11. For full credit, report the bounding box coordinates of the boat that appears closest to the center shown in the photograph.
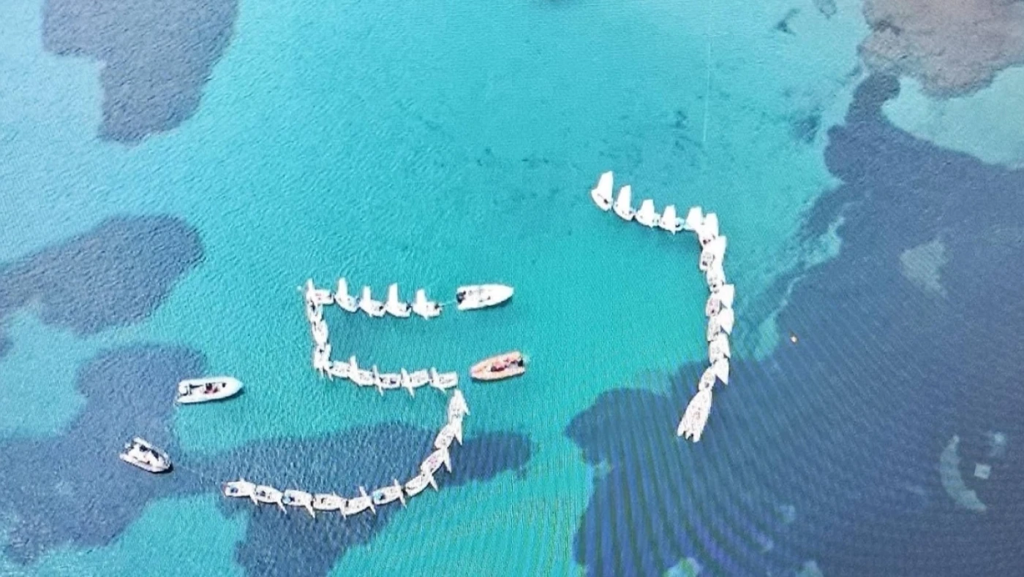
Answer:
[456,284,514,309]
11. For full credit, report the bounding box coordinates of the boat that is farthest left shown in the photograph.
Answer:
[120,438,169,470]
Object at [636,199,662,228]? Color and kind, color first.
white boat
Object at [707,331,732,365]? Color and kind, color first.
white boat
